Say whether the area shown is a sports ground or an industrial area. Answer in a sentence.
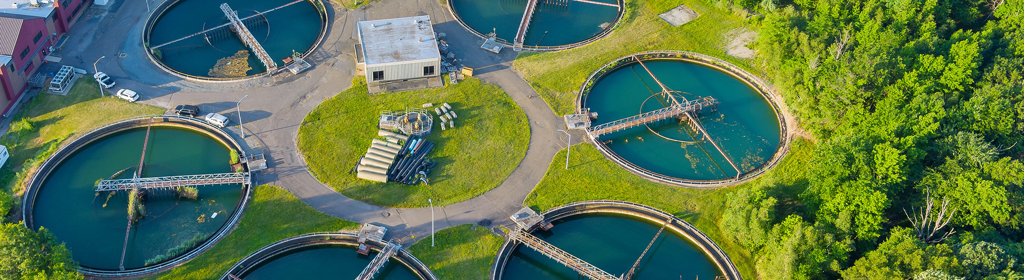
The picture captures an industrial area.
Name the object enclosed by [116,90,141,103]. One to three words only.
vehicle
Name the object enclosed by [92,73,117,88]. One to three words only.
vehicle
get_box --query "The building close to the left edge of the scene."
[0,0,94,122]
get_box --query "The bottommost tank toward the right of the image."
[493,198,742,280]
